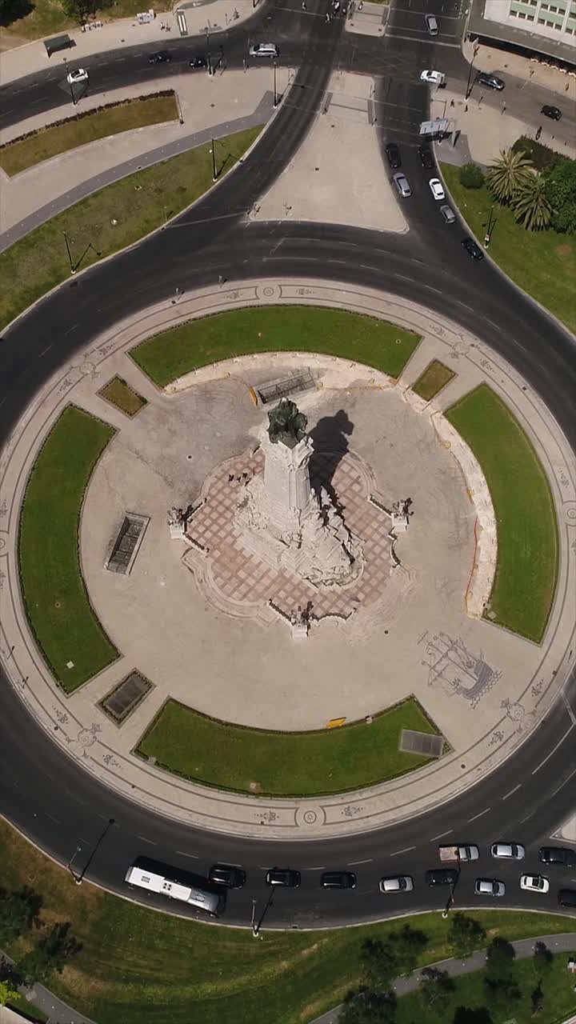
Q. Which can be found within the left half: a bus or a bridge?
bus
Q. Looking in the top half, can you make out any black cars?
Yes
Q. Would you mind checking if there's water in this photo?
No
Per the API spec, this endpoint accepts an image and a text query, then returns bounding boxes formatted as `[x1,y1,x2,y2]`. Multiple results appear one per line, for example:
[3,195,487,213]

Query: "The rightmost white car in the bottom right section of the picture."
[520,875,551,894]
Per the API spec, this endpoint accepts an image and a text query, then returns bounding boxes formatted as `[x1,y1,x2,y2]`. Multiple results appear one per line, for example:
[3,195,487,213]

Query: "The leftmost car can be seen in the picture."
[65,66,90,82]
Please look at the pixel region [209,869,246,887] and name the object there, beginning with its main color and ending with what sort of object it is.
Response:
black car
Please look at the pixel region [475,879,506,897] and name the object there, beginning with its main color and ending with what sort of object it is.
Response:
gray car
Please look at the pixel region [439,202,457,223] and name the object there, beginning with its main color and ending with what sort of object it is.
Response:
gray car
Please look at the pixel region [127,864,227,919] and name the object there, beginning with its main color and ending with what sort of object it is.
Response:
white bus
